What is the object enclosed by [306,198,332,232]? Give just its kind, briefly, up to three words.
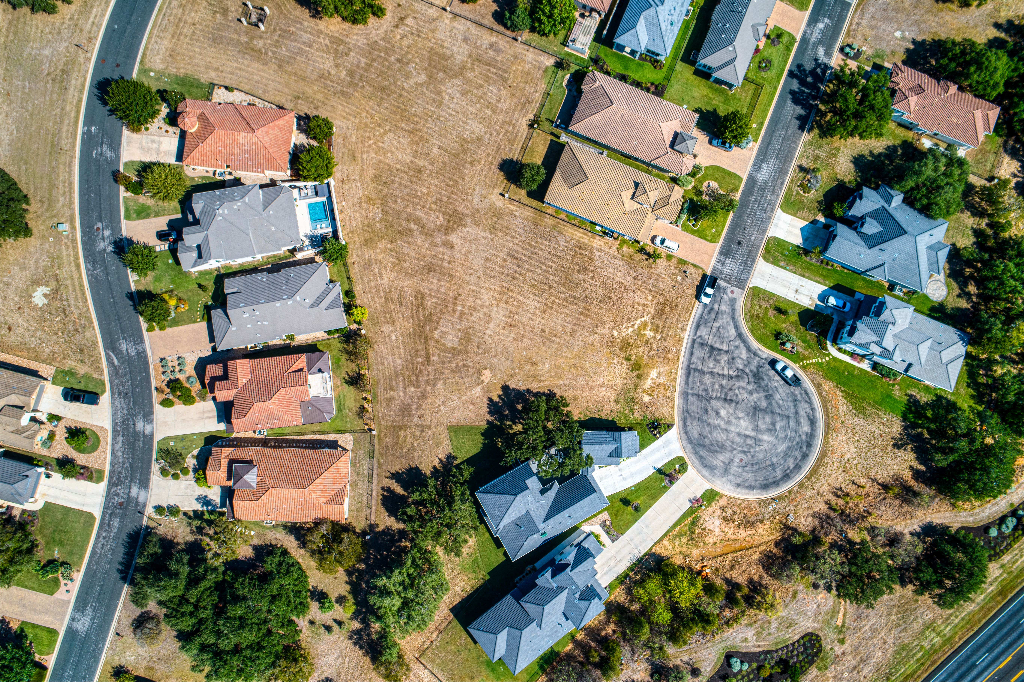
swimming pool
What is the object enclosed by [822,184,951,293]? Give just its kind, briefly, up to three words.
house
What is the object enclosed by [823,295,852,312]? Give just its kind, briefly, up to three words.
car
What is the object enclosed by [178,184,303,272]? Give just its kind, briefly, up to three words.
house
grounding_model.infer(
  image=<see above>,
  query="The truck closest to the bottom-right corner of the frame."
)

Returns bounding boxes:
[771,359,803,388]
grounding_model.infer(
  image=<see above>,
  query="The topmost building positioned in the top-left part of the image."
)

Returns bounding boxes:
[177,98,297,175]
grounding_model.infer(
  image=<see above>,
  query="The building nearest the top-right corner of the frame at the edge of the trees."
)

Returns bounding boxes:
[885,61,1001,150]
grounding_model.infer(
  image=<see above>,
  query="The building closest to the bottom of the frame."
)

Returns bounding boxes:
[467,533,610,676]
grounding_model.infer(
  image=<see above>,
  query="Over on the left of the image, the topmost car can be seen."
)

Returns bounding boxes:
[156,229,178,241]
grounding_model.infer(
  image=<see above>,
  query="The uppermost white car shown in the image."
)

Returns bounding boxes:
[652,235,681,253]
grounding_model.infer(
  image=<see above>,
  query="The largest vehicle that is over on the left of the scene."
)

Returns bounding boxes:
[61,388,102,406]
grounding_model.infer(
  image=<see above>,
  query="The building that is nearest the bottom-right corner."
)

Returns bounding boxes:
[845,294,972,392]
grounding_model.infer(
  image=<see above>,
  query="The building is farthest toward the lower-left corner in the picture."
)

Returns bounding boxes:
[0,454,50,505]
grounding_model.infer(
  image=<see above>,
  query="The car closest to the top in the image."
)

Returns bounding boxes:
[710,136,735,154]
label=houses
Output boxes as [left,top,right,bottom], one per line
[475,430,640,562]
[0,454,50,505]
[845,294,972,392]
[178,184,303,272]
[569,70,700,176]
[210,262,347,351]
[0,367,51,451]
[885,61,1001,150]
[613,0,693,60]
[205,351,338,434]
[822,184,951,293]
[467,533,610,676]
[544,141,685,244]
[177,98,297,175]
[206,447,352,523]
[573,0,611,17]
[697,0,776,89]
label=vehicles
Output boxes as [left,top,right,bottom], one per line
[698,273,720,305]
[156,229,178,241]
[710,136,735,154]
[61,388,102,406]
[823,295,852,312]
[652,235,681,253]
[771,359,803,388]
